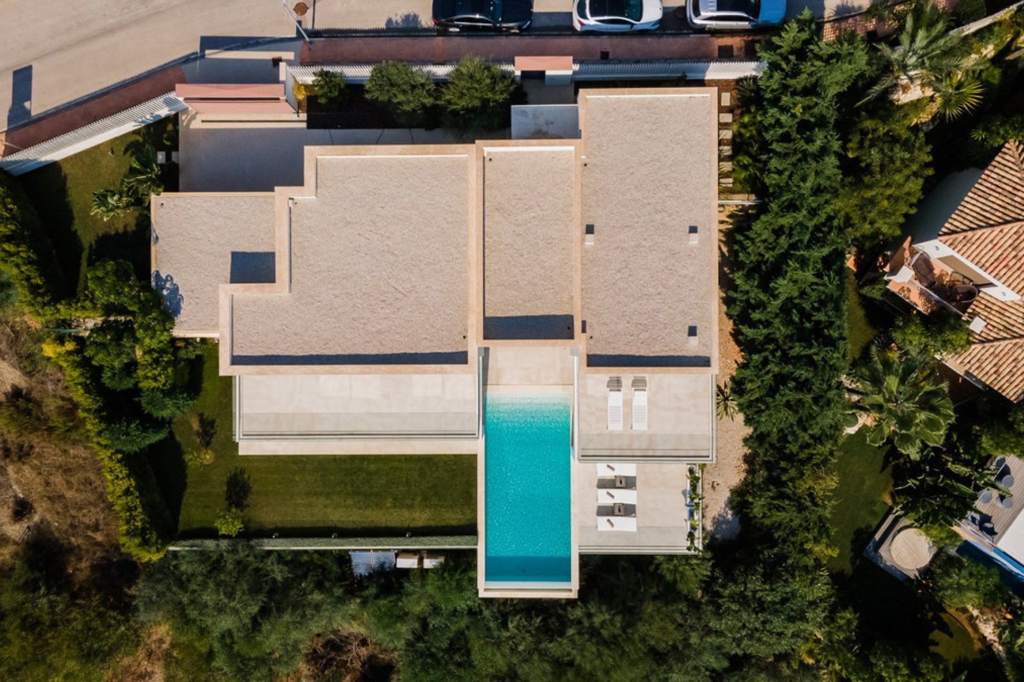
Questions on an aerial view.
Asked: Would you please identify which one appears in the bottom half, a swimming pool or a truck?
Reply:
swimming pool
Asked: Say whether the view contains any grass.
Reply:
Yes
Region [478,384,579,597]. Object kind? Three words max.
swimming pool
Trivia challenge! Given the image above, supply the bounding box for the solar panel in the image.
[348,549,399,574]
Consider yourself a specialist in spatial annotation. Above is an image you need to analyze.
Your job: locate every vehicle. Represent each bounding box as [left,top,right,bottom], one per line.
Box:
[684,0,786,32]
[433,0,532,32]
[572,0,661,32]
